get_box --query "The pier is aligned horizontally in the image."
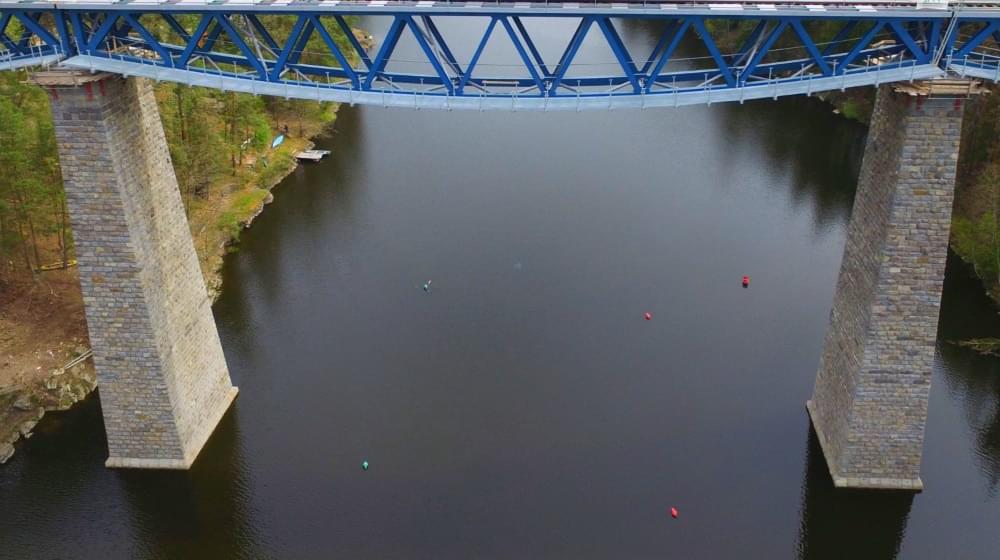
[294,150,333,162]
